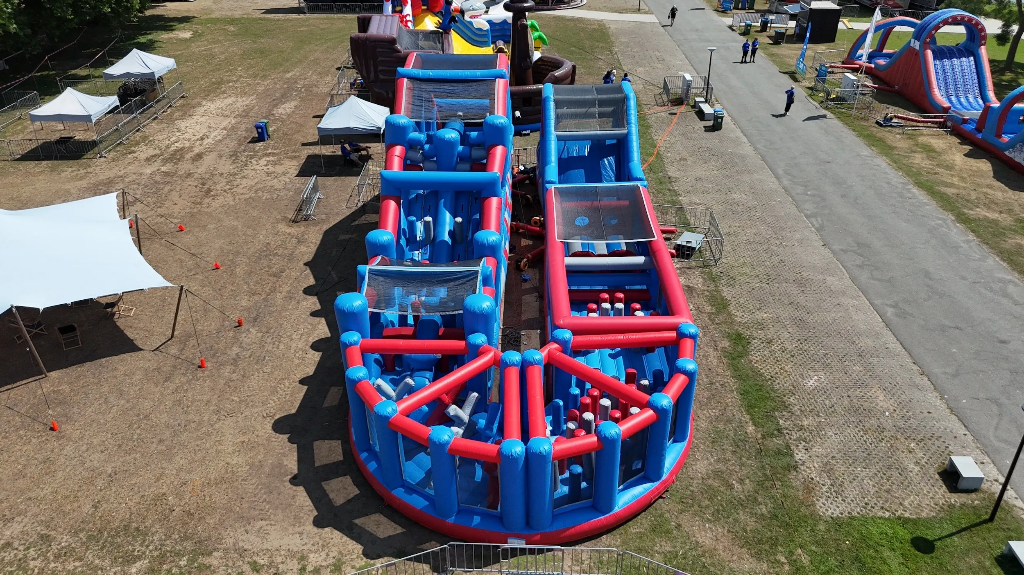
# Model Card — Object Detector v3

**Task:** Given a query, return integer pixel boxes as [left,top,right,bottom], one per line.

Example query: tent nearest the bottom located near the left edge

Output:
[0,187,235,420]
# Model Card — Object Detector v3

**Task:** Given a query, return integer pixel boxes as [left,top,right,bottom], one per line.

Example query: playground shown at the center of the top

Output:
[416,14,495,60]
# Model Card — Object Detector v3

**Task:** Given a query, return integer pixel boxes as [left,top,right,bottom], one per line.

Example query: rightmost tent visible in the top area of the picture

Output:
[315,96,391,172]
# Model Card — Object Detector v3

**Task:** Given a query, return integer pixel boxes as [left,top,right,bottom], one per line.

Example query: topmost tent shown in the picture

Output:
[99,38,172,96]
